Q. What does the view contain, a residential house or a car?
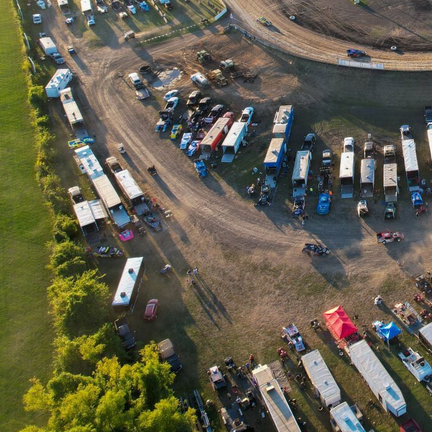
car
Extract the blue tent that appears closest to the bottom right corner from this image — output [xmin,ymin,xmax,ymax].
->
[377,322,406,354]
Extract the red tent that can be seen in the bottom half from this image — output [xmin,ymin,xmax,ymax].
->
[317,302,366,359]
